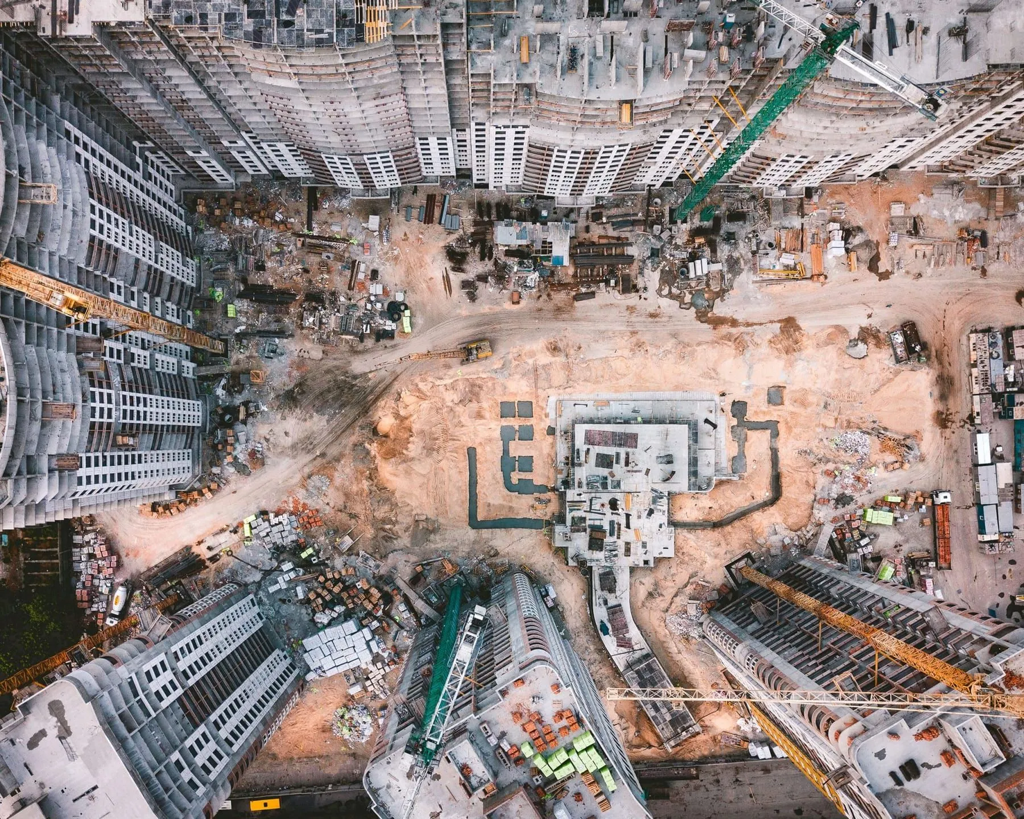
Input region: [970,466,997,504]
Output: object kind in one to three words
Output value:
building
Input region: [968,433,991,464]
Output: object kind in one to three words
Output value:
building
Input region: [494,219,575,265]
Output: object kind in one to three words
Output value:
shed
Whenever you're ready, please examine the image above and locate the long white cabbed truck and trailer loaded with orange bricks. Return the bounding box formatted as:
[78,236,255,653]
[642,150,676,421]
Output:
[938,488,959,580]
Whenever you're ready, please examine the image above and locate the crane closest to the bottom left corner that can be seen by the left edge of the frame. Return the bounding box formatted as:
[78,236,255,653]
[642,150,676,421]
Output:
[0,578,198,696]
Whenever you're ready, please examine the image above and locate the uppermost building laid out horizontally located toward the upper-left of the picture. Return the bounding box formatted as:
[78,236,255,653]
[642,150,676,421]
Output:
[0,0,472,201]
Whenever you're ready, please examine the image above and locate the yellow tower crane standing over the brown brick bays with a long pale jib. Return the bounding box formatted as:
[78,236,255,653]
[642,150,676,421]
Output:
[608,554,1024,718]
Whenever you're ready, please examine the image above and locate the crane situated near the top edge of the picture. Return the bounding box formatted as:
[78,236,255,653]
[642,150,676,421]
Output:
[669,0,950,233]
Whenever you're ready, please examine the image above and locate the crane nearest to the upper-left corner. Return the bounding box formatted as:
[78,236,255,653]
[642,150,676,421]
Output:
[0,250,233,355]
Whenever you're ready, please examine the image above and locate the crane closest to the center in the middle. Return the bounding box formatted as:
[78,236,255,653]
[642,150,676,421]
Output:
[381,341,490,380]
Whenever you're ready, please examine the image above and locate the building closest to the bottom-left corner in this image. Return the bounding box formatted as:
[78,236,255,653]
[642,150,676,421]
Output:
[0,579,306,819]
